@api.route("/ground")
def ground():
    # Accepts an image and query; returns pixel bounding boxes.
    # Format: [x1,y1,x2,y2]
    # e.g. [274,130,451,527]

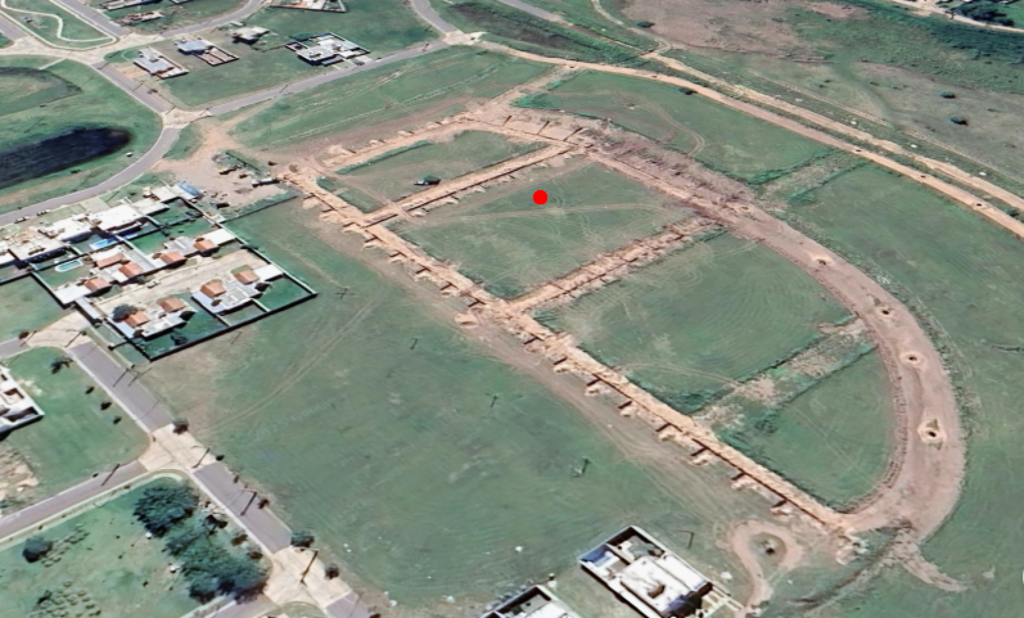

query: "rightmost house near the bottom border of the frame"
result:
[608,545,704,618]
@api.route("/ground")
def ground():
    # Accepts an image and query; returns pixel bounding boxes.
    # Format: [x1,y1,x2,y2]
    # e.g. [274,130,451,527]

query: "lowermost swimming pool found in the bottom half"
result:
[587,550,612,568]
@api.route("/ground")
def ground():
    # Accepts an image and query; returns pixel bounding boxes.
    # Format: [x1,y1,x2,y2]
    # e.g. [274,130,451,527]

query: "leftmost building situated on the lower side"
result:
[0,369,49,436]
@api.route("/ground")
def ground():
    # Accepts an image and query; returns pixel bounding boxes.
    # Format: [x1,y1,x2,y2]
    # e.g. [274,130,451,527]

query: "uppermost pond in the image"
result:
[0,128,129,190]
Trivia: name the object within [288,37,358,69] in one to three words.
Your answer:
house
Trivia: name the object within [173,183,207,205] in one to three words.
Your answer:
shed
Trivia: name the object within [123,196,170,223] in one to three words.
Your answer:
house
